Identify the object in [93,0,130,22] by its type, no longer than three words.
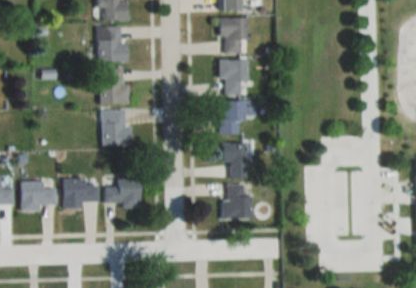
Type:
house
